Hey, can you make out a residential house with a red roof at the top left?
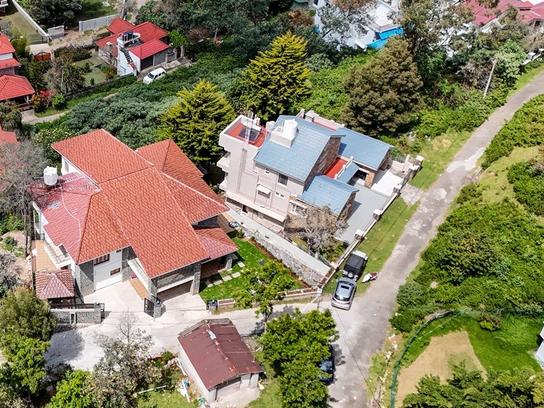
Yes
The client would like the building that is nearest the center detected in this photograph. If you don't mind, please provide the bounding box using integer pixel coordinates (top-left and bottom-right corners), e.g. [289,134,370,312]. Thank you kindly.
[214,113,416,268]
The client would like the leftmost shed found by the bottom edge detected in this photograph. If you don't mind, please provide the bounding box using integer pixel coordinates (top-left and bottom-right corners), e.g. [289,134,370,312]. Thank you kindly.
[176,320,266,408]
